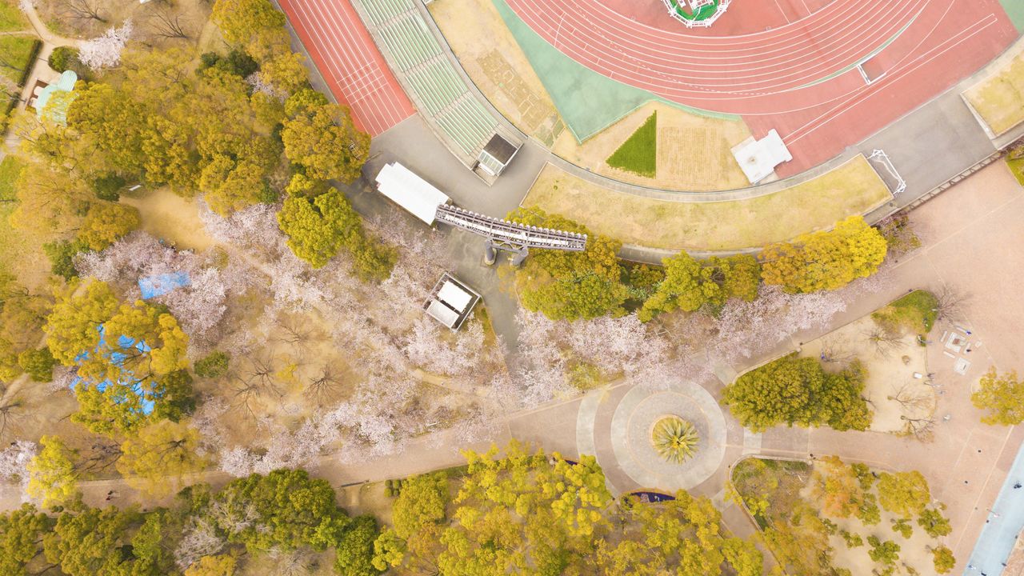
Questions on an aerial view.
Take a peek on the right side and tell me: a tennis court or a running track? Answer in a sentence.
You can see a running track on the right side.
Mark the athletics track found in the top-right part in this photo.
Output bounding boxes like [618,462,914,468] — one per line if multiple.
[492,0,1024,182]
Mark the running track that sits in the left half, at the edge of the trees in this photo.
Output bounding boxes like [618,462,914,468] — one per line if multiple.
[279,0,417,142]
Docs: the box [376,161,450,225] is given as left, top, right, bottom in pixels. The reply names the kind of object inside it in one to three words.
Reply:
house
